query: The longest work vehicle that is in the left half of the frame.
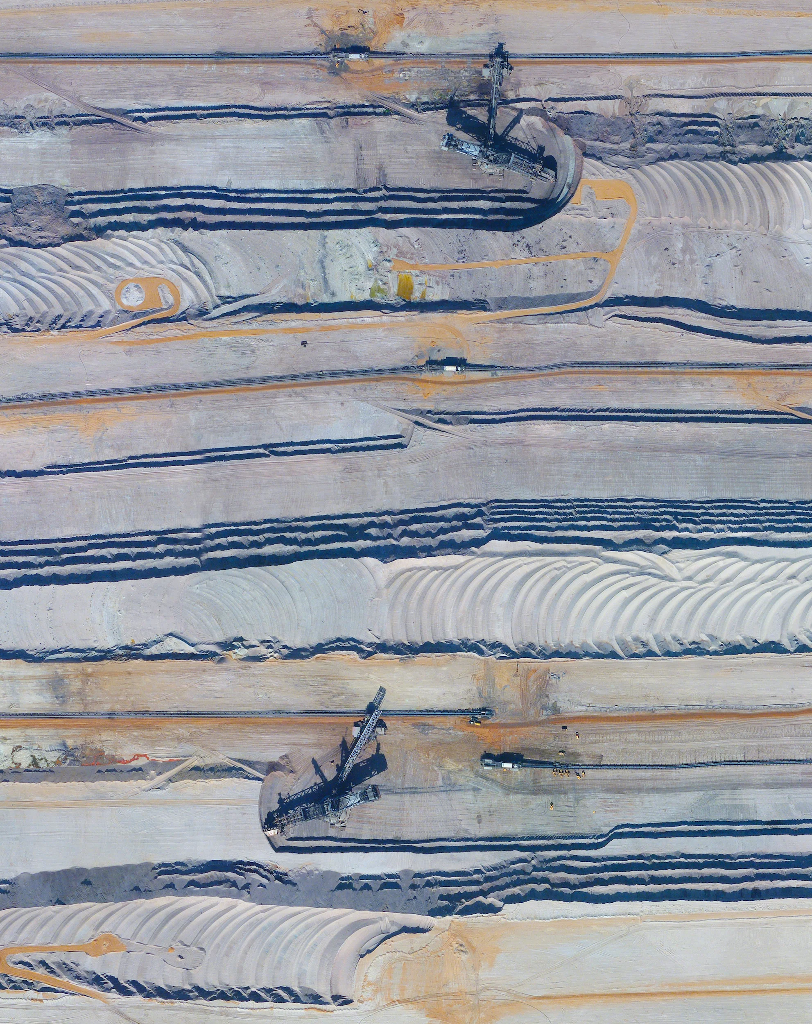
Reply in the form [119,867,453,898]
[263,711,383,841]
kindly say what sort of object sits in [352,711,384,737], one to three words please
vehicle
